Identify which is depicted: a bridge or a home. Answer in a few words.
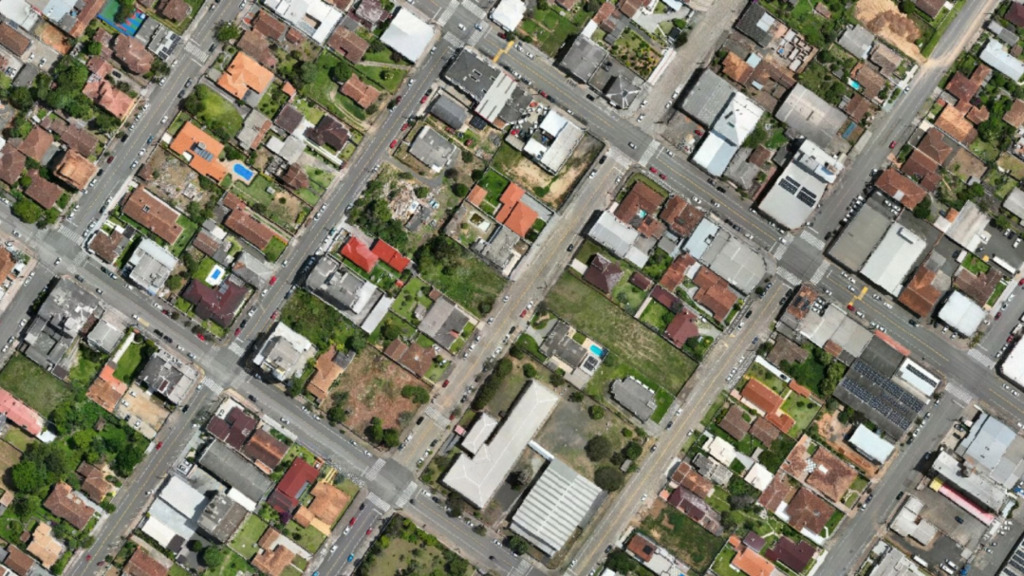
home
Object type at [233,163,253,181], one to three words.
swimming pool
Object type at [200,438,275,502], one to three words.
building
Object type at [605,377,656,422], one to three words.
house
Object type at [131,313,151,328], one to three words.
vehicle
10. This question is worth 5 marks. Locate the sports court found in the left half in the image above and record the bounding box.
[97,0,147,37]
